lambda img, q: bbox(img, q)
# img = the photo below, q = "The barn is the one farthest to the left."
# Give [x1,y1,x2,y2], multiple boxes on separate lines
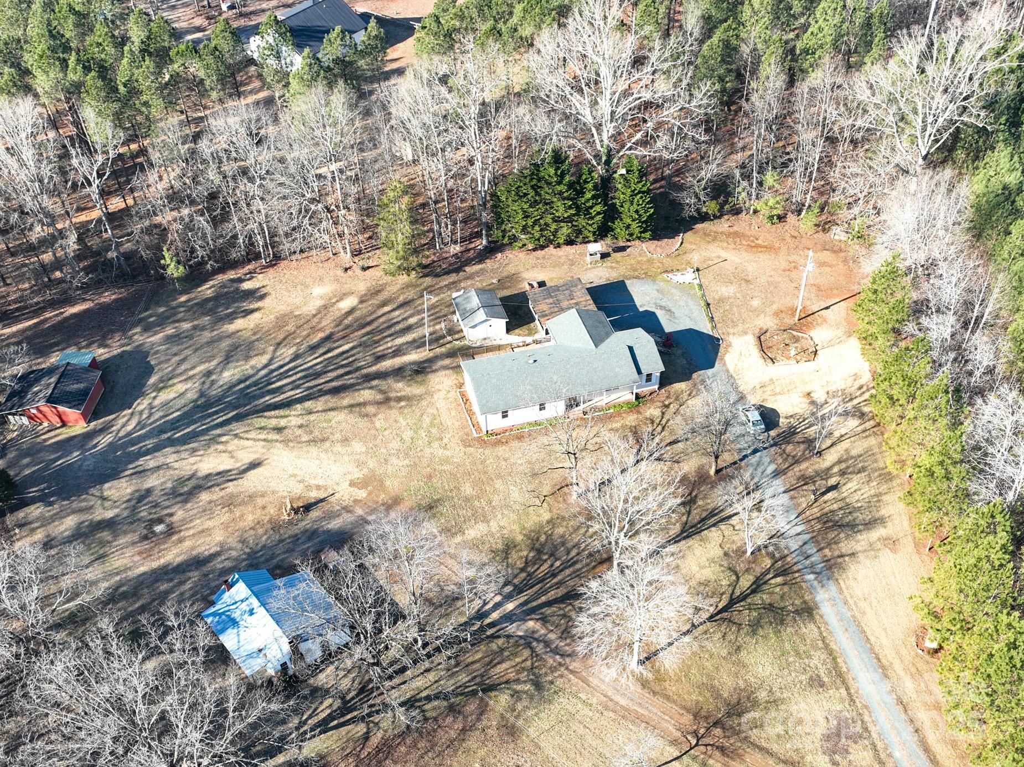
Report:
[0,352,103,426]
